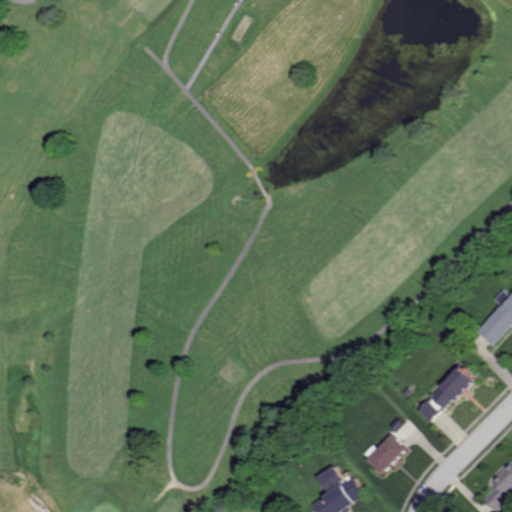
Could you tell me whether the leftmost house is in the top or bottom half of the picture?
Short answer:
bottom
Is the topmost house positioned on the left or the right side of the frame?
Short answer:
right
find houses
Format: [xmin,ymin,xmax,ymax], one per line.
[420,366,472,422]
[365,434,406,474]
[478,291,512,346]
[312,466,366,512]
[485,458,512,512]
